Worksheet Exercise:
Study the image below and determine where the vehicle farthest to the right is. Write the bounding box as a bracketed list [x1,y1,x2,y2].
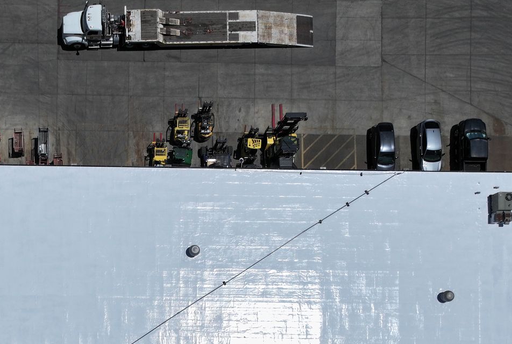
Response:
[454,119,491,170]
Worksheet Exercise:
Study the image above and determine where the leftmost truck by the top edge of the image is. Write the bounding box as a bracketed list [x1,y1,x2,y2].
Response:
[59,0,148,48]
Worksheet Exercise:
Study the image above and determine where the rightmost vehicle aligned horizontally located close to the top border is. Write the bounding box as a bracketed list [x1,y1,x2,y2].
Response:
[124,0,312,53]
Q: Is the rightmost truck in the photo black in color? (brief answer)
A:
Yes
